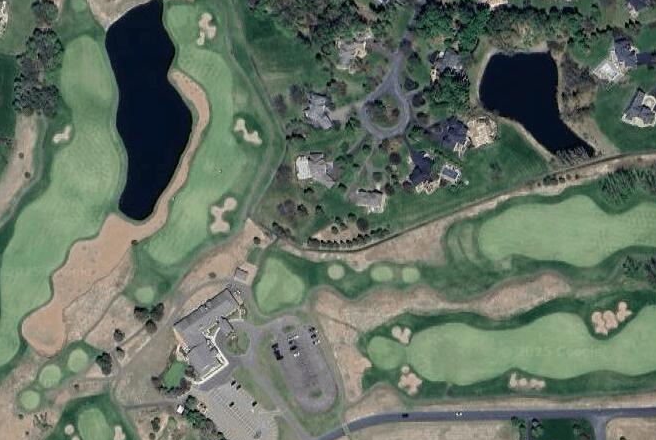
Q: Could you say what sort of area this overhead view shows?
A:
golf course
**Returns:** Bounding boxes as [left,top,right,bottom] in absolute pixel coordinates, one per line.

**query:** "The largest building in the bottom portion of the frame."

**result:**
[175,288,243,384]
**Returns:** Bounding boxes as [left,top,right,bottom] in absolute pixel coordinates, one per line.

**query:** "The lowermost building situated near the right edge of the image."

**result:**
[623,86,656,126]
